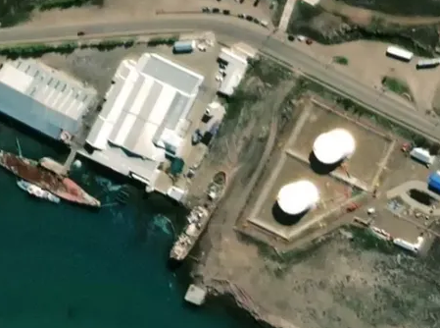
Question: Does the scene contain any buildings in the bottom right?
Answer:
No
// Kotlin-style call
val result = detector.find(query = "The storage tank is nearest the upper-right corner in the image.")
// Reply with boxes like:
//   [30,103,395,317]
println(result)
[314,129,355,165]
